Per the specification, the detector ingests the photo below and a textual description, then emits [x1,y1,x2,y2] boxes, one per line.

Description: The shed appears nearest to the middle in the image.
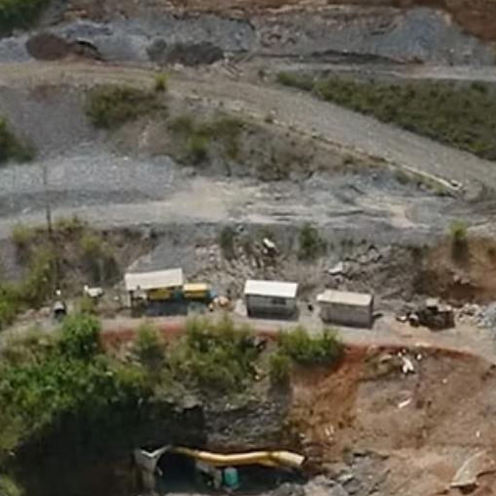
[241,280,302,320]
